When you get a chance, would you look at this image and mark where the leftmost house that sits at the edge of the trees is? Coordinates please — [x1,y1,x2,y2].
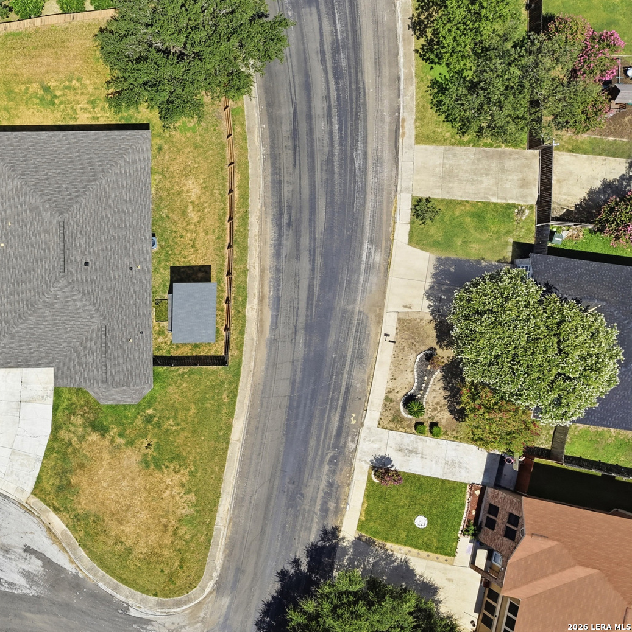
[0,130,153,407]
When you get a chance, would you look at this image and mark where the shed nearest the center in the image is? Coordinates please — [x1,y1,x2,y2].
[167,282,216,343]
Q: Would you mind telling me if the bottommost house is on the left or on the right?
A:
right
